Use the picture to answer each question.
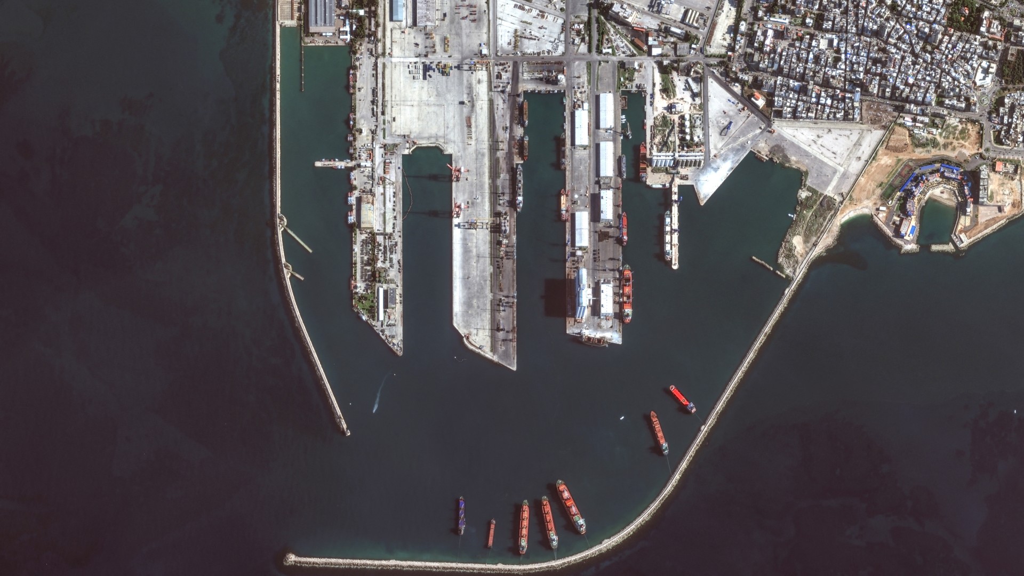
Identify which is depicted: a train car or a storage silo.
storage silo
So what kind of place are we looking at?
port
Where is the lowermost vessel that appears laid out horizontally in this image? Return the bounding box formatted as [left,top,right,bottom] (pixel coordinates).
[579,334,609,347]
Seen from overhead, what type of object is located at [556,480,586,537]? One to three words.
ship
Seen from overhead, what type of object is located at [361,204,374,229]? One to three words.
building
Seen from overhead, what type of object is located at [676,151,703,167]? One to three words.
silo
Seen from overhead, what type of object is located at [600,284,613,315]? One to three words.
building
